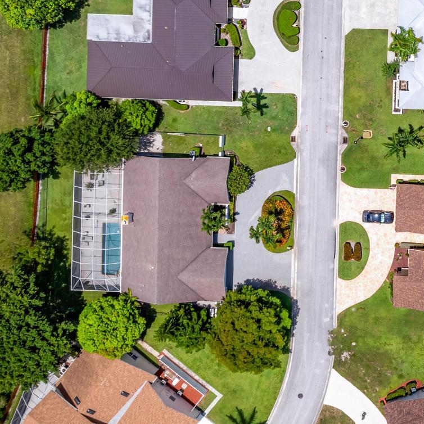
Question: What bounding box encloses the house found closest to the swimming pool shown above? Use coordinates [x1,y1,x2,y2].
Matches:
[115,152,232,305]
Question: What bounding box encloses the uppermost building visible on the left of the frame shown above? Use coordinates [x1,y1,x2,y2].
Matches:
[85,0,236,101]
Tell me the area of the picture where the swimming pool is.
left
